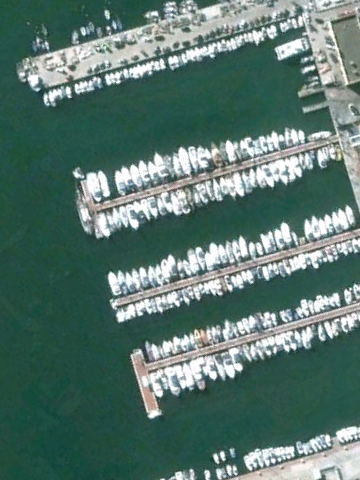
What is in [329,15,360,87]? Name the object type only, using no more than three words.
building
